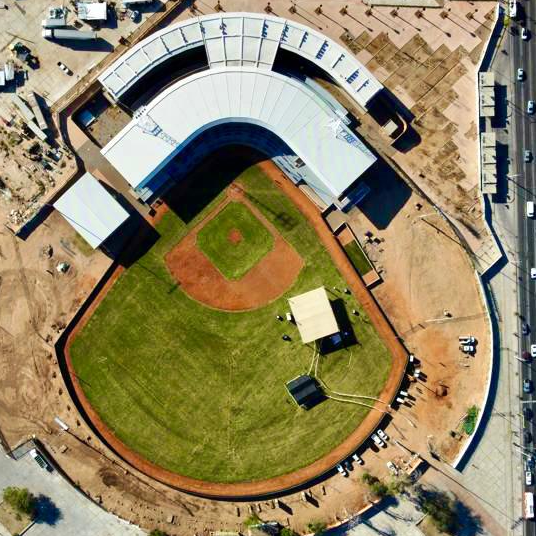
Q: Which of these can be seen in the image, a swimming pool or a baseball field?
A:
baseball field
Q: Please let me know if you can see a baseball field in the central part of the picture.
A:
Yes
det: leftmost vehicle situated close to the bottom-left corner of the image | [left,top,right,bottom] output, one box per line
[31,451,49,471]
